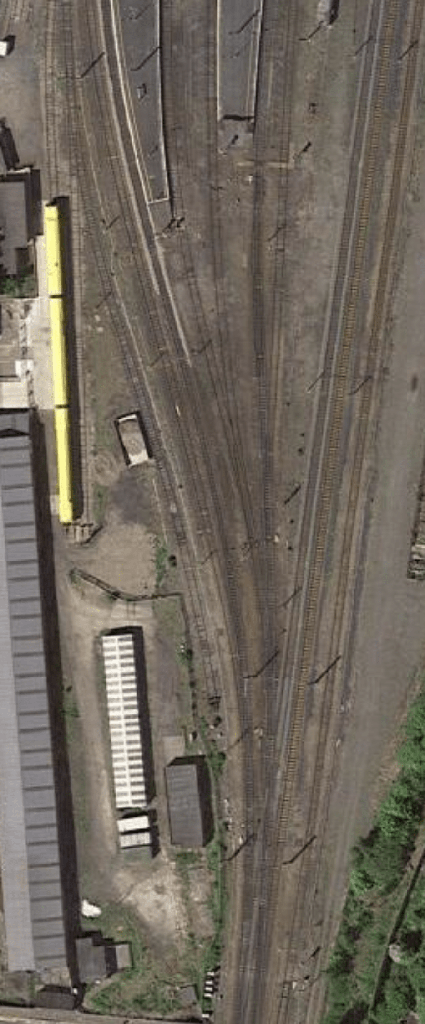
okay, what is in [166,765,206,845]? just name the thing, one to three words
shed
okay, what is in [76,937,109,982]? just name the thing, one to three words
shed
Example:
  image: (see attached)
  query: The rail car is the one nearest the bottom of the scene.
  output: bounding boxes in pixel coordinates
[55,407,75,523]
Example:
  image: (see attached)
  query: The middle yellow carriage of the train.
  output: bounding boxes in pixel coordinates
[50,297,69,405]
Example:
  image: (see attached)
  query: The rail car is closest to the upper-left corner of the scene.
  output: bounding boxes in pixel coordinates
[45,206,63,295]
